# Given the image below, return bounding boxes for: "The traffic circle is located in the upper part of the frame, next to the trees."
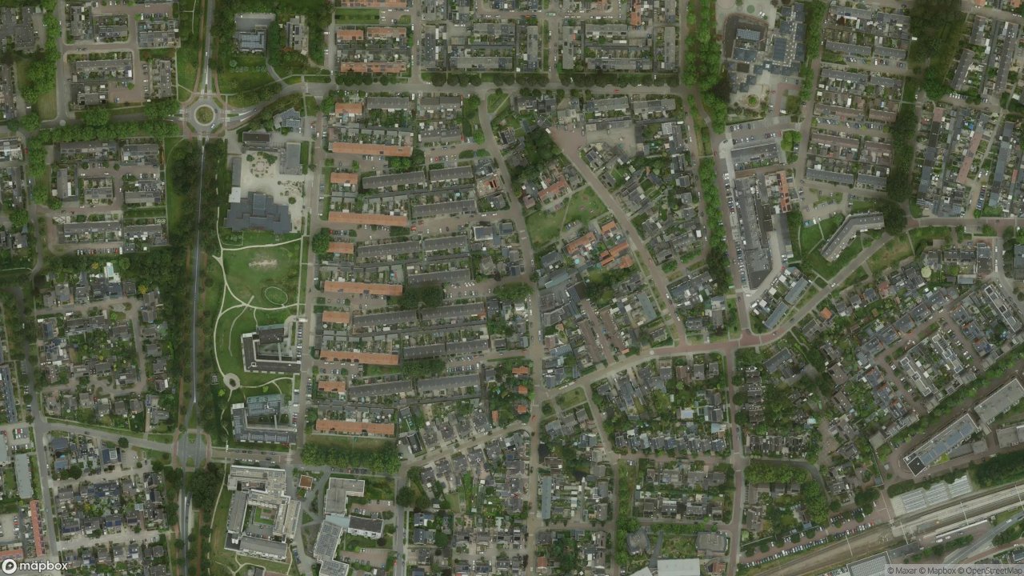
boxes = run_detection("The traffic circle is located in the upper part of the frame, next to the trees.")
[182,92,227,138]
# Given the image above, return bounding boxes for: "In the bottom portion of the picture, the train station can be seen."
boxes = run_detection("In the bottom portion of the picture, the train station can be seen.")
[894,483,1024,538]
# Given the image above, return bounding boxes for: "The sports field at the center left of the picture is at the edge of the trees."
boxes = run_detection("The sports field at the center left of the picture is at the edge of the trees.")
[228,241,299,282]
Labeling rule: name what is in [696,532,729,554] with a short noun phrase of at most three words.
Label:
building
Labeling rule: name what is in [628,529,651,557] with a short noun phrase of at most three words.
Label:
building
